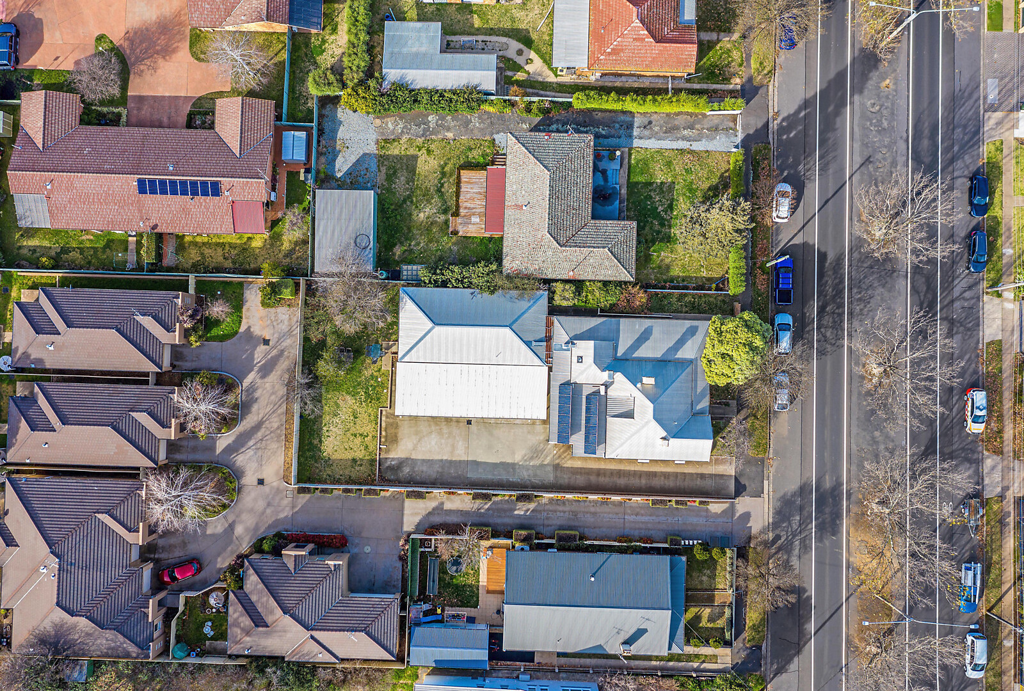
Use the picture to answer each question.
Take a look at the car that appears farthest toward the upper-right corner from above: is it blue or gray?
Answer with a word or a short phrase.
blue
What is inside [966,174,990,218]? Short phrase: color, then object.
blue car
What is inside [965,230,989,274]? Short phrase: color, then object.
blue car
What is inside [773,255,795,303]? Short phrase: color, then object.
blue truck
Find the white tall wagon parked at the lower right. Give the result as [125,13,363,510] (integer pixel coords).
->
[963,632,989,680]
